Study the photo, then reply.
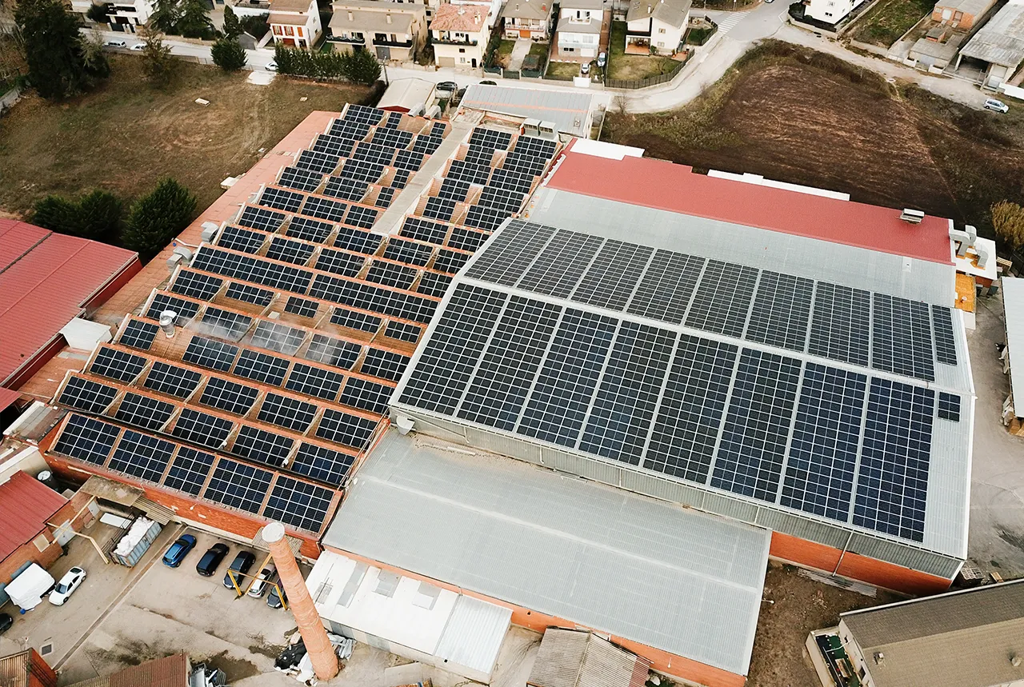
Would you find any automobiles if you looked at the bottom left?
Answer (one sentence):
Yes, at the bottom left there is an automobile.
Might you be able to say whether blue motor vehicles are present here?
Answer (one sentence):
Yes, there is a blue motor vehicle in the image.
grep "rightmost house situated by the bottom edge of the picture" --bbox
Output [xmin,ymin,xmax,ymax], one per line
[802,575,1024,687]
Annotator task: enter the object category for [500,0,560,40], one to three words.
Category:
house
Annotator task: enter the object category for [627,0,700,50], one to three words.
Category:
house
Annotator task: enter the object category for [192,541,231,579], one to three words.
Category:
car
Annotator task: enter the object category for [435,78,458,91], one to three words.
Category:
vehicle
